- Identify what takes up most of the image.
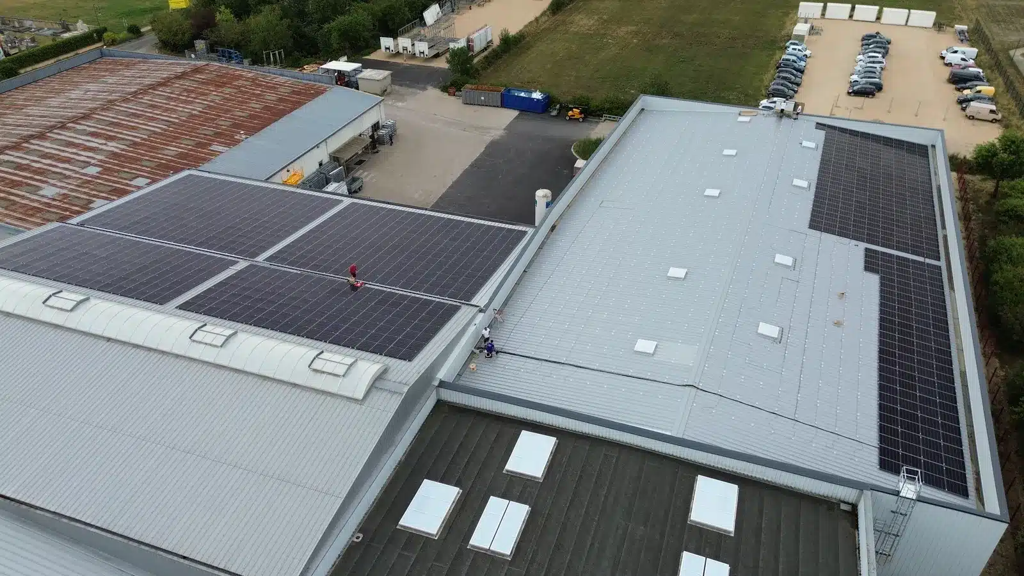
buildings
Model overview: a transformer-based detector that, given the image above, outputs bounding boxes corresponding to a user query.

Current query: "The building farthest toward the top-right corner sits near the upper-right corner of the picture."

[908,7,937,28]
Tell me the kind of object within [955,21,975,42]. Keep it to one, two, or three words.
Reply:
vehicle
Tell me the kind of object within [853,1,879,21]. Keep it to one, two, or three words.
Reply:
building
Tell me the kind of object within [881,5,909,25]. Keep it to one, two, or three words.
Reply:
building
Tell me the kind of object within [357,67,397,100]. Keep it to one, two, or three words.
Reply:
shed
